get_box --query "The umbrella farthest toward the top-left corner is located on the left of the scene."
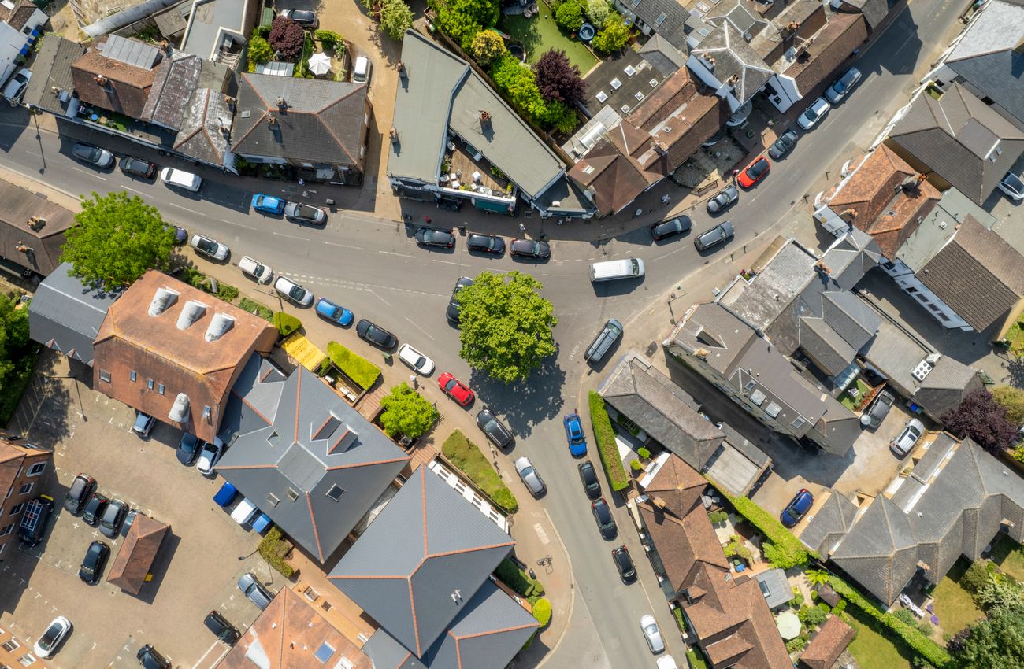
[307,51,331,75]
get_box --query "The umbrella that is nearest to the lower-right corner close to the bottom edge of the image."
[776,613,801,639]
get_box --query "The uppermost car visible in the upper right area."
[822,63,867,104]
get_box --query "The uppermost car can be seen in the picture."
[282,4,320,28]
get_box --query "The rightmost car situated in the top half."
[995,174,1024,208]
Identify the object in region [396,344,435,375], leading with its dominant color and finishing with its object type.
white car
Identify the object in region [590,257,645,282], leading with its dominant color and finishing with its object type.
white vehicle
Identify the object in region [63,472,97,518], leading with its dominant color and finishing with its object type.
gray car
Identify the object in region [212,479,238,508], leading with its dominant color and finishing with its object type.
blue car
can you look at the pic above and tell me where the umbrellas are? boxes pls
[659,193,671,204]
[776,613,801,639]
[307,51,331,75]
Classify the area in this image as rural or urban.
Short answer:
urban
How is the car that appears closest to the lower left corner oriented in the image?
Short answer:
at an angle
